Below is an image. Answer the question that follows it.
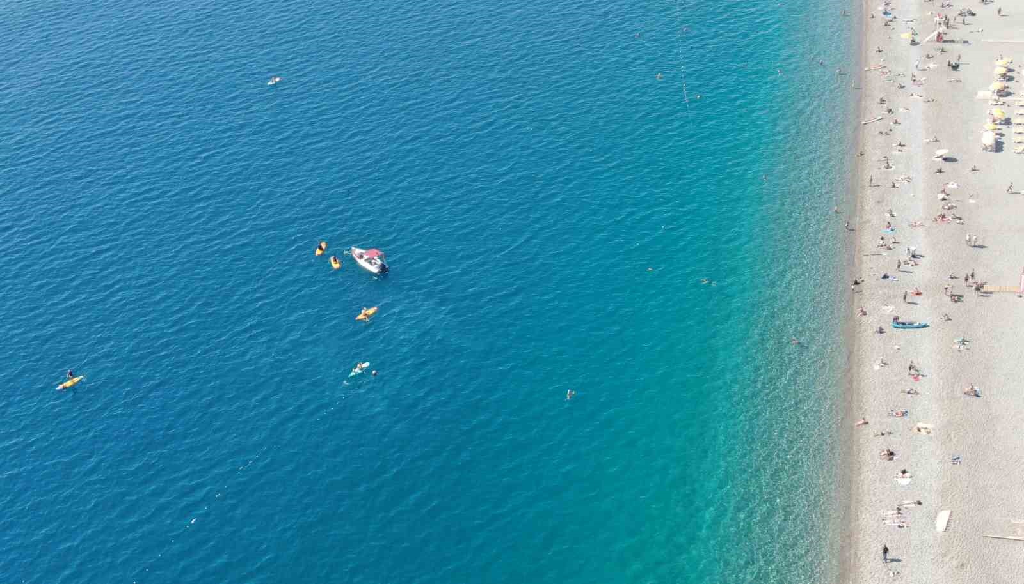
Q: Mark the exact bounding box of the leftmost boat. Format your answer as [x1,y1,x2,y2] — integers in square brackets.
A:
[56,375,84,389]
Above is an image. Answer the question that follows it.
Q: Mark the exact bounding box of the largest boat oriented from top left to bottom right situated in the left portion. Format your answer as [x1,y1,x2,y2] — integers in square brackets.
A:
[353,245,389,275]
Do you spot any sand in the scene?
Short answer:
Yes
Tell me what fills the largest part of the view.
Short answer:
water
